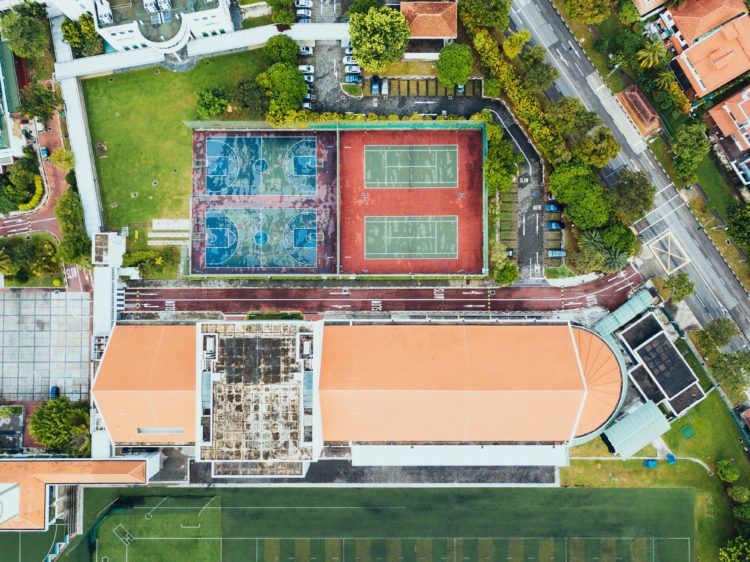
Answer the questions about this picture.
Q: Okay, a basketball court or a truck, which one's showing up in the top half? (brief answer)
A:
basketball court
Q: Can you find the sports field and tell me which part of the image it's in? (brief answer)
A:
bottom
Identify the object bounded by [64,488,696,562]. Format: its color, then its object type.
green sports field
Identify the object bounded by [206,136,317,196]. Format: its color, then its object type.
blue basketball court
